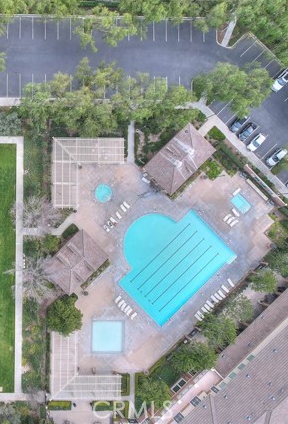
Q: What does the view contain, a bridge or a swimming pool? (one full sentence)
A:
Of the two, only a swimming pool appears.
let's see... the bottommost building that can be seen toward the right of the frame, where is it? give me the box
[139,261,288,424]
